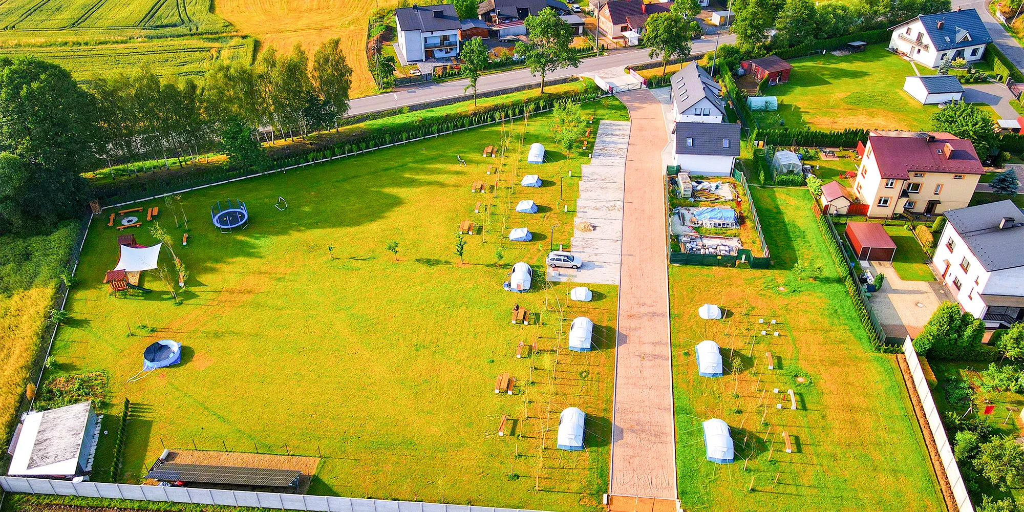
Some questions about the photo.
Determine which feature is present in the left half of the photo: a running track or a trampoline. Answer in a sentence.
You can see a trampoline in the left half of the photo.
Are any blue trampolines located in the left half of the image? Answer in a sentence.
Yes, a blue trampoline shows up in the left half of the image.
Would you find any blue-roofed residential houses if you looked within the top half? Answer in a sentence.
Yes, you'll find a blue-roofed residential house within the top half.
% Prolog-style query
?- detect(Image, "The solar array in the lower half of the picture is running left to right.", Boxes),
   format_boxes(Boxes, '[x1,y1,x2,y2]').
[145,459,288,493]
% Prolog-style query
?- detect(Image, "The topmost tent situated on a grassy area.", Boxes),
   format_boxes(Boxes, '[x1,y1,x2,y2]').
[525,142,550,165]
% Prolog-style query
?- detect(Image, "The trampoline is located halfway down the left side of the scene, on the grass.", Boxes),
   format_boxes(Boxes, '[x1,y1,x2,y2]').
[207,202,248,235]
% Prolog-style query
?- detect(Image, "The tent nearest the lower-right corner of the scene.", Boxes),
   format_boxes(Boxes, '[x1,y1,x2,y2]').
[690,417,746,478]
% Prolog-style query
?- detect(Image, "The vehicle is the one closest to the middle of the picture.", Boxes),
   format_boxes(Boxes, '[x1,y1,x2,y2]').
[546,249,581,267]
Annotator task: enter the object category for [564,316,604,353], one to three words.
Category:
tent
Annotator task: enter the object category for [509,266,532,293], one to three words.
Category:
tent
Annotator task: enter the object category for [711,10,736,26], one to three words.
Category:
shed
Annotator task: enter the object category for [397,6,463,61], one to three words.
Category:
house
